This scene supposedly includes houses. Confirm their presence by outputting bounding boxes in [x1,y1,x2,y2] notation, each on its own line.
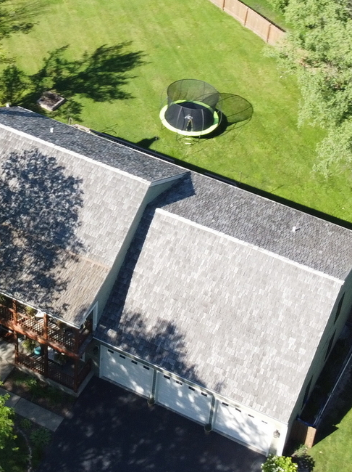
[0,108,352,458]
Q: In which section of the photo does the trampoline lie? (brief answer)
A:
top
